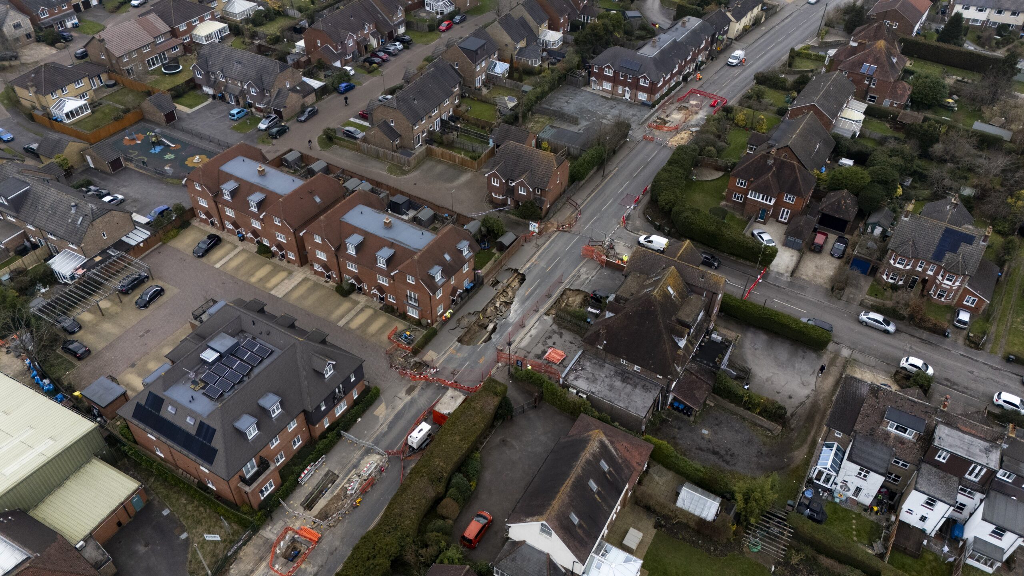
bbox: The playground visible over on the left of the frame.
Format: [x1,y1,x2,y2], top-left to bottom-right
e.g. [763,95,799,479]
[112,122,215,180]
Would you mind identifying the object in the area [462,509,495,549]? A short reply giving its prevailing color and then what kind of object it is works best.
red car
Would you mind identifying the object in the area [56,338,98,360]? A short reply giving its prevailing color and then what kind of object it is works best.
black car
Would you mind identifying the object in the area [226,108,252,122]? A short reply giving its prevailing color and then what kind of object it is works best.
blue car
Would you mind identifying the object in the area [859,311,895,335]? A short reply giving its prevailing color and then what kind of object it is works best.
gray car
